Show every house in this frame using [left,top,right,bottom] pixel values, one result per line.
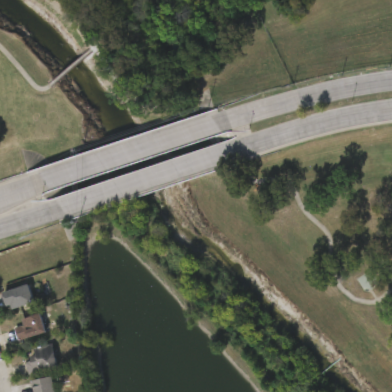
[1,284,31,312]
[12,314,46,342]
[31,379,54,392]
[24,345,56,375]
